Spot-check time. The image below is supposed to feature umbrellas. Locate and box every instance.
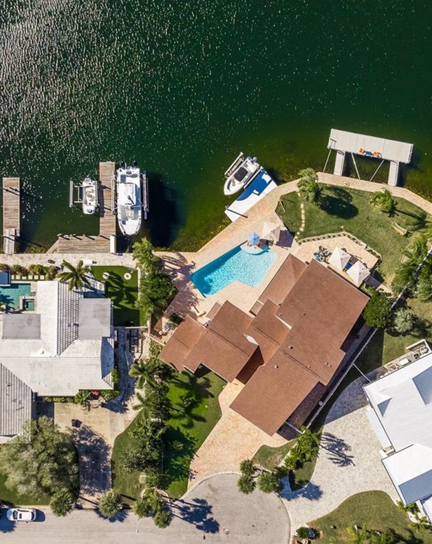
[261,220,285,244]
[329,248,351,270]
[248,233,260,245]
[347,262,370,283]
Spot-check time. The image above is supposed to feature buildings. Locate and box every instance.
[0,281,115,444]
[361,350,432,521]
[159,254,371,437]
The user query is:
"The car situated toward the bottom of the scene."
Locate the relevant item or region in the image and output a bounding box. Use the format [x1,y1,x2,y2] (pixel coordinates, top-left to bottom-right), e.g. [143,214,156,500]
[8,509,38,524]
